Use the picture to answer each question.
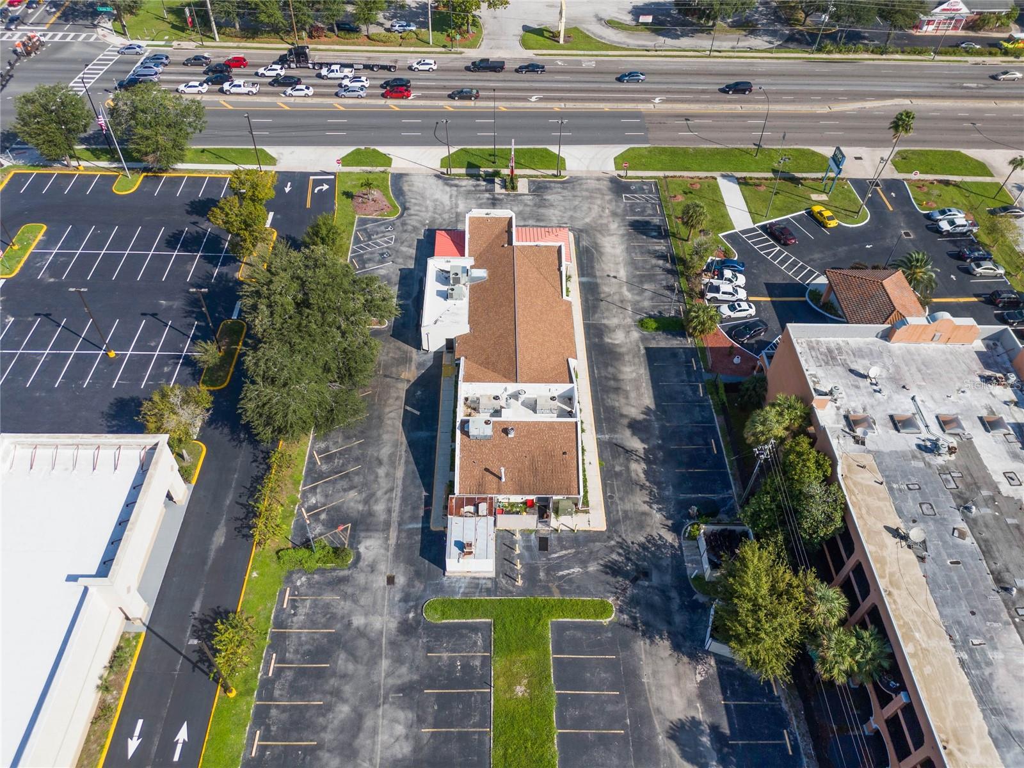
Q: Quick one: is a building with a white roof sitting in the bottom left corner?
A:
Yes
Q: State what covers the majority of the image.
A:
paved ground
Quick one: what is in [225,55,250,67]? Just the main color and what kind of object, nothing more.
red vehicle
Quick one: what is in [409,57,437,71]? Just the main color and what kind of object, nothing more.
white car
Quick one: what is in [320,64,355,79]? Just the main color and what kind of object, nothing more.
white vehicle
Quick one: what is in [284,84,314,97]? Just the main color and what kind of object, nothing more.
white vehicle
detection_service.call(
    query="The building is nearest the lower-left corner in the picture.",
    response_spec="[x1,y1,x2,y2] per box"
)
[0,434,193,768]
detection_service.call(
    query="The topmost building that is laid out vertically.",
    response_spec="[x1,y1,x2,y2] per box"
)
[420,206,595,522]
